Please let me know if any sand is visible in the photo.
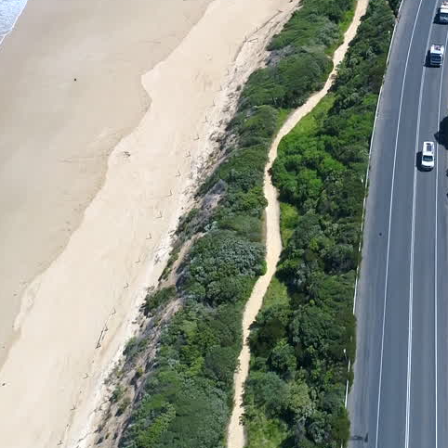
Yes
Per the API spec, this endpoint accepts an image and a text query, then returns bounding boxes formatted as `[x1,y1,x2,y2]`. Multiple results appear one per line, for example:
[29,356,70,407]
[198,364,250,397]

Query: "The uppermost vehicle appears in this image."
[435,3,448,23]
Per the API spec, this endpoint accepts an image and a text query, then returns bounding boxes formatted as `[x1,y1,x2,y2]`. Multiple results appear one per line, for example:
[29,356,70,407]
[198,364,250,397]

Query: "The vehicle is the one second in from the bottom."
[427,44,442,67]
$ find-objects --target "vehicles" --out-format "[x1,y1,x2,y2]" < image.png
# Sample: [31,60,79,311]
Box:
[427,44,442,67]
[435,3,448,23]
[420,142,435,167]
